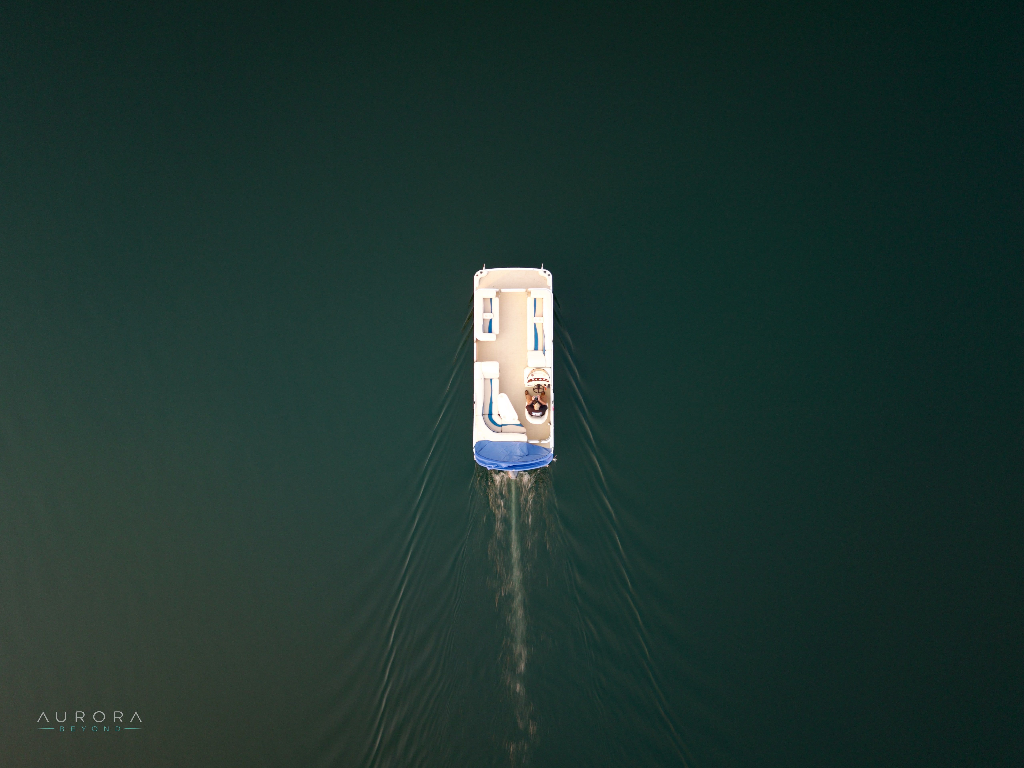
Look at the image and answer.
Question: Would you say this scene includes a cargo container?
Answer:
No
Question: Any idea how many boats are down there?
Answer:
one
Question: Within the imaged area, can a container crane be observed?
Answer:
No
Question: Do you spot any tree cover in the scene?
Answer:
No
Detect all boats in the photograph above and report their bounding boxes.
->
[473,263,554,478]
